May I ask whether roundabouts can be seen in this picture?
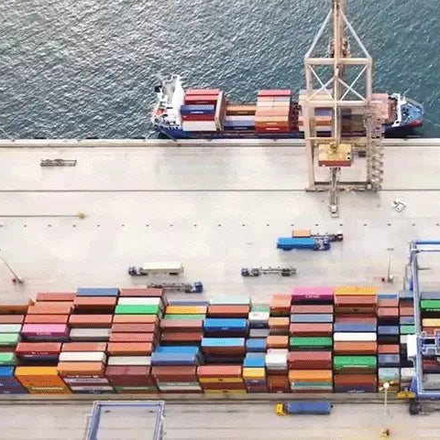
No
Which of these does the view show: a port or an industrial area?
port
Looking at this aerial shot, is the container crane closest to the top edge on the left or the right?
right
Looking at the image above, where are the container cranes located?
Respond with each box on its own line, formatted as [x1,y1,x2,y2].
[77,393,165,440]
[404,241,440,400]
[292,0,387,218]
